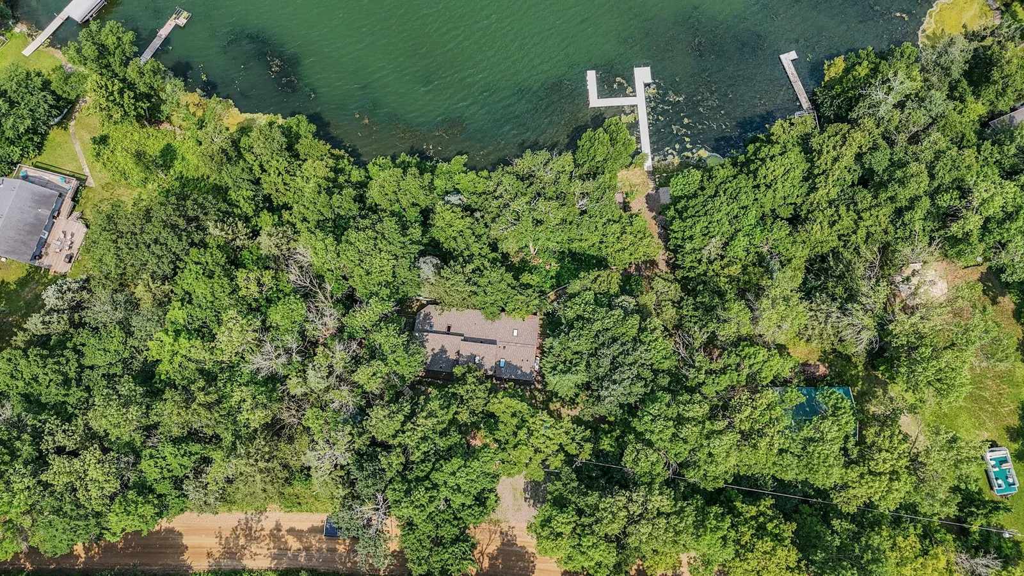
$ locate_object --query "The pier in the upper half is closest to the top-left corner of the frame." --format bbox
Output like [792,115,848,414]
[22,11,69,56]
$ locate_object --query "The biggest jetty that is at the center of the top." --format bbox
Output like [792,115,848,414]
[585,66,653,170]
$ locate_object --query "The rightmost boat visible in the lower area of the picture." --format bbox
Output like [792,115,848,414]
[986,444,1022,500]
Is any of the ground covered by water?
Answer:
Yes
